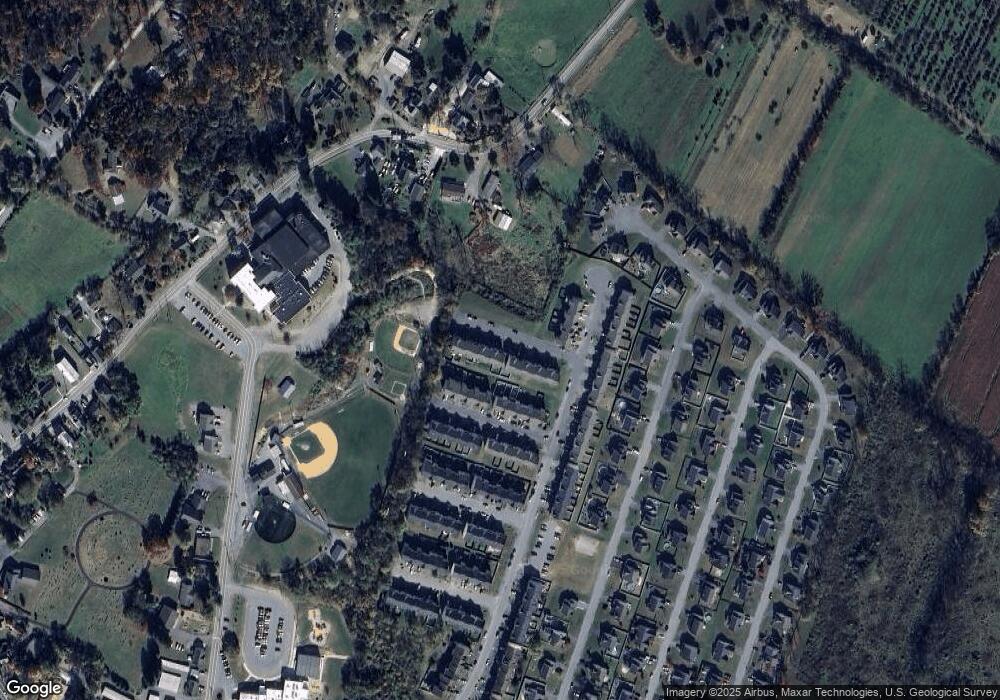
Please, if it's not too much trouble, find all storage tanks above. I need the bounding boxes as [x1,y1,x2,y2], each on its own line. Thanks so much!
[255,502,295,543]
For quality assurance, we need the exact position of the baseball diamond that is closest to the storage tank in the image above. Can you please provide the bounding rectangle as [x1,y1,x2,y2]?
[280,388,397,527]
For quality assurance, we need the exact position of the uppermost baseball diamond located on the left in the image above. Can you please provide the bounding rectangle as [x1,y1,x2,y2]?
[373,318,422,376]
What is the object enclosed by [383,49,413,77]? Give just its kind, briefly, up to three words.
barn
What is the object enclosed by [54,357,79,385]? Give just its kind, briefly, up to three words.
building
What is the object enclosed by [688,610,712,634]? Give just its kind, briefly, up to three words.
house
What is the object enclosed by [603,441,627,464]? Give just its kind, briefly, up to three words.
house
